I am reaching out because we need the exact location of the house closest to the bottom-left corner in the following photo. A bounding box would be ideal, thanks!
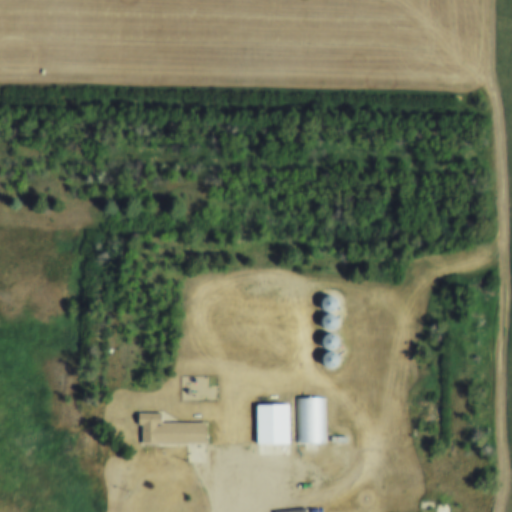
[139,413,208,446]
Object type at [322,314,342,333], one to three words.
silo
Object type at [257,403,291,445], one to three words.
barn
